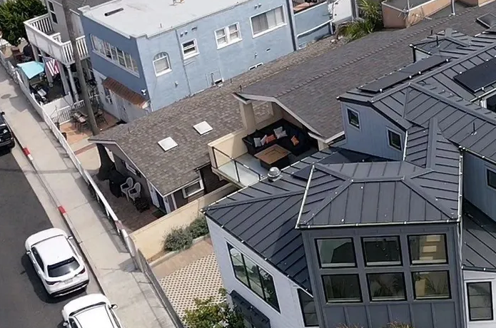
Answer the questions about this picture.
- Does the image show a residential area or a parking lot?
residential area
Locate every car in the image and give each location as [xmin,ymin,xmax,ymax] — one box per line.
[0,108,22,154]
[20,225,94,299]
[54,290,127,328]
